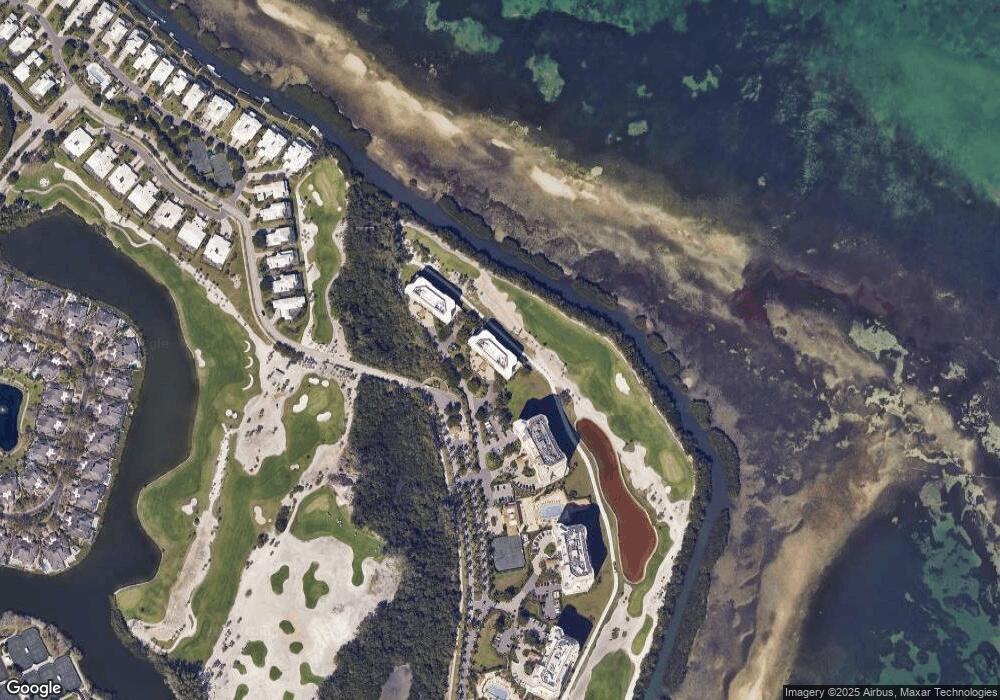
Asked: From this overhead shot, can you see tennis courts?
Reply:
Yes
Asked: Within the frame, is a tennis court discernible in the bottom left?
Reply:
Yes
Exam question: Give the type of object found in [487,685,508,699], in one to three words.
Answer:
swimming pool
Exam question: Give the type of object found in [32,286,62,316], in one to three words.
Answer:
house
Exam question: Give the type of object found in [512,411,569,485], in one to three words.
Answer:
building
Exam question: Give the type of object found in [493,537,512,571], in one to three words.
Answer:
tennis court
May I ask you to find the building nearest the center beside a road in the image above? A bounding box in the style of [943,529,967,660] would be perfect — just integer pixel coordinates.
[467,329,519,381]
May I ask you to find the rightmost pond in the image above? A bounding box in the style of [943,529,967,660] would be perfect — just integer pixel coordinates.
[577,419,657,583]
